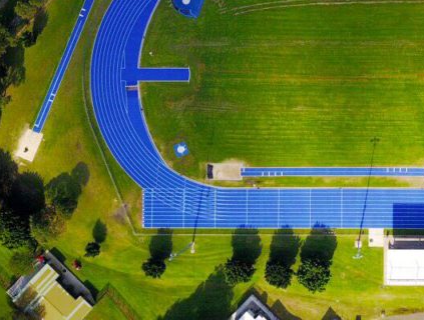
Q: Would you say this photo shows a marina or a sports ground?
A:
sports ground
